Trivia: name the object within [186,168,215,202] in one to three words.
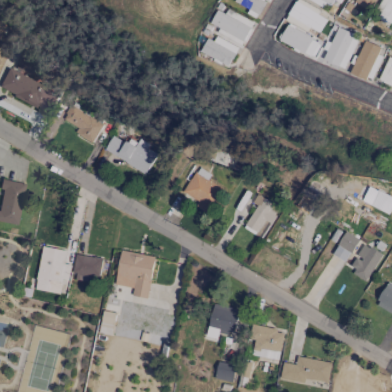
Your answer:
house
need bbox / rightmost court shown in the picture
[17,324,72,392]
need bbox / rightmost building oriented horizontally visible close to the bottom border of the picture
[281,360,333,388]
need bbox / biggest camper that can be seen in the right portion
[237,192,253,212]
